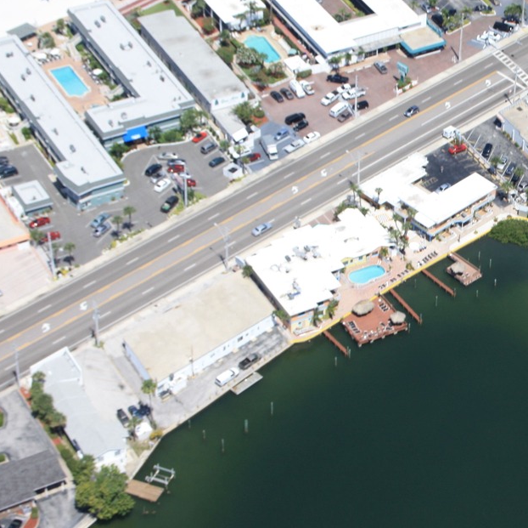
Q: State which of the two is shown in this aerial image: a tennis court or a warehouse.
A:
warehouse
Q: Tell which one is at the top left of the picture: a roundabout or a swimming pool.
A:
swimming pool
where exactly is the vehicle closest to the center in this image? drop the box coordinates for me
[252,221,272,234]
